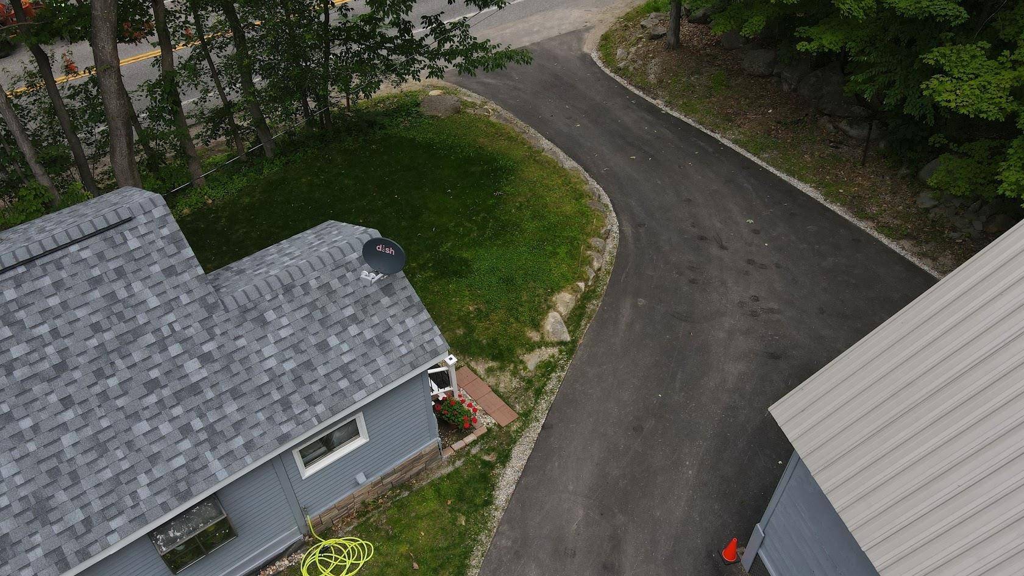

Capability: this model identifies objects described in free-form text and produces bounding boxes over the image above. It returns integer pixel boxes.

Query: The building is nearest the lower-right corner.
[742,216,1024,576]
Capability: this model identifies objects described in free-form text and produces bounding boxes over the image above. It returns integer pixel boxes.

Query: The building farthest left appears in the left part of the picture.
[0,186,452,576]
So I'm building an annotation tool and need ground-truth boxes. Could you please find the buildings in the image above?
[0,186,452,576]
[742,216,1024,576]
